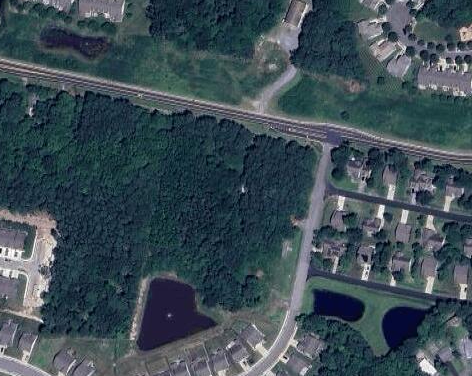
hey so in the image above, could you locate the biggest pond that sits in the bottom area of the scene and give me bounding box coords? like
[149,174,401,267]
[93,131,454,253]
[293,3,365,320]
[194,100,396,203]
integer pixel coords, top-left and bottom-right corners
[138,277,216,350]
